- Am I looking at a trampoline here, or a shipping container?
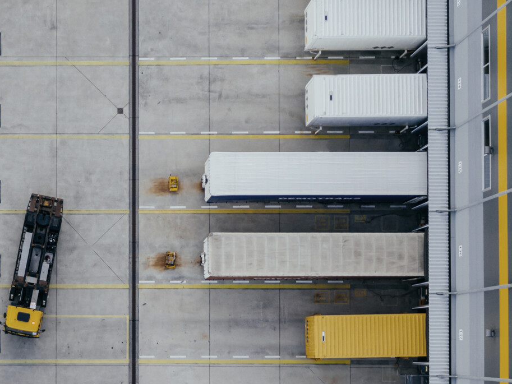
shipping container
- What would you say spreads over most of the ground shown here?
paved ground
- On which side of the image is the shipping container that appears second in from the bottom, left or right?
right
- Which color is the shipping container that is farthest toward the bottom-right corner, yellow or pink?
yellow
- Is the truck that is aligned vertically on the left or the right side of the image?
left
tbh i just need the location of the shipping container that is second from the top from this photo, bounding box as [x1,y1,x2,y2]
[305,74,427,133]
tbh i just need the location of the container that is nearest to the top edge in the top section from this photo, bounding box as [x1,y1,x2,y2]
[305,0,427,58]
